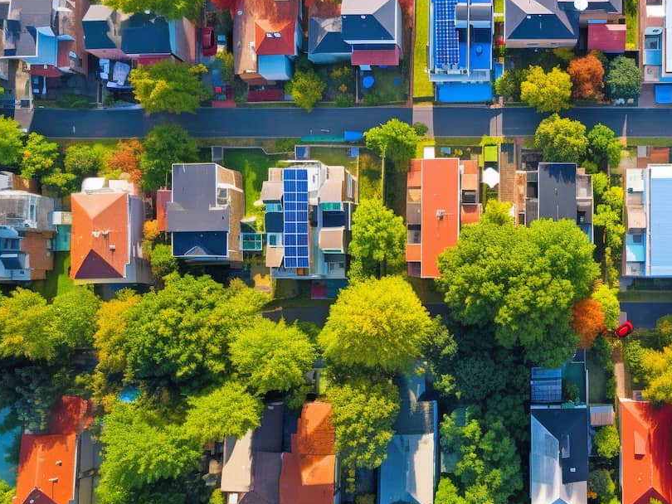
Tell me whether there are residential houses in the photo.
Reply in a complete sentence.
Yes, the picture does show a residential house.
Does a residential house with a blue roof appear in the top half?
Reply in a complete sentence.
Yes, a residential house with a blue roof can be seen in the top half.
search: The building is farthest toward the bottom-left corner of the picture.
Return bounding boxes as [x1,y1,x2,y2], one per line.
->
[13,393,110,504]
